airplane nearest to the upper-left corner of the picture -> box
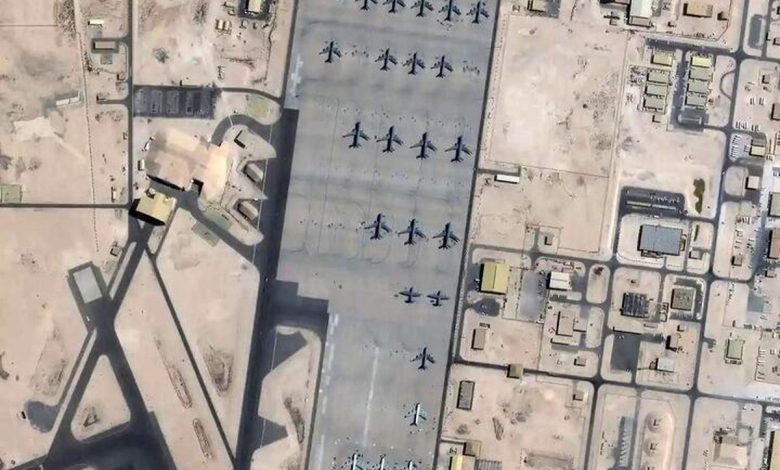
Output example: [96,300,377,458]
[320,41,340,62]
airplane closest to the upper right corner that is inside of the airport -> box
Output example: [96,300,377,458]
[466,1,488,24]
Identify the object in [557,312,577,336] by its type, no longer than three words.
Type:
building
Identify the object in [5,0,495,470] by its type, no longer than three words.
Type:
airport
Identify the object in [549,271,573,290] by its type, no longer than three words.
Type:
building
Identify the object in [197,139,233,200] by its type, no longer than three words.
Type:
hangar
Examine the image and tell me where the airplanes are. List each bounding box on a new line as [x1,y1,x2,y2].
[428,291,449,306]
[403,53,424,74]
[405,403,427,426]
[411,0,432,16]
[400,287,420,302]
[365,213,390,240]
[411,133,436,159]
[376,49,396,70]
[342,452,364,470]
[320,41,340,62]
[431,56,452,77]
[412,347,434,369]
[371,457,388,470]
[398,219,423,245]
[344,121,369,149]
[433,222,458,249]
[466,1,488,24]
[404,460,415,470]
[438,0,459,21]
[445,136,470,162]
[384,0,405,13]
[377,126,403,153]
